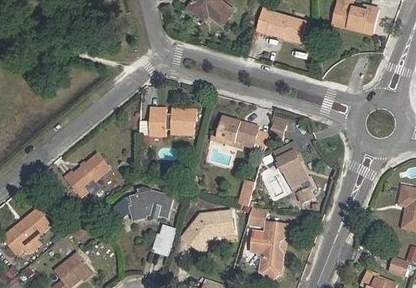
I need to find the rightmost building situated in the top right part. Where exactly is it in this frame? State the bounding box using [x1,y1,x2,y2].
[332,0,380,36]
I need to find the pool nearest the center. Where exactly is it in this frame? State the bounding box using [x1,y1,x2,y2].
[210,150,232,166]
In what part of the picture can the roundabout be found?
right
